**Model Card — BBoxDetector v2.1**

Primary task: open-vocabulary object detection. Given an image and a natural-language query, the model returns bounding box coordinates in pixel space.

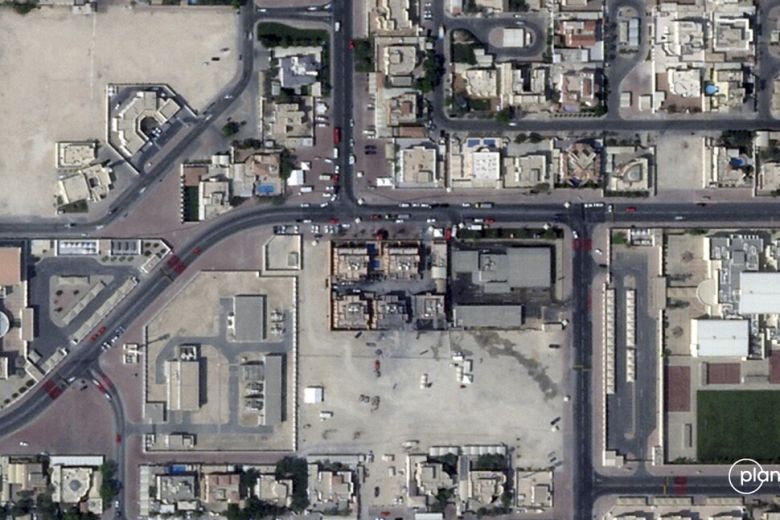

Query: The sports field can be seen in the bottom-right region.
[697,391,780,462]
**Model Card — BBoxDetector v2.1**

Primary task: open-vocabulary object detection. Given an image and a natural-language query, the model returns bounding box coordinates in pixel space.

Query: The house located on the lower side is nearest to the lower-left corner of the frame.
[1,455,46,502]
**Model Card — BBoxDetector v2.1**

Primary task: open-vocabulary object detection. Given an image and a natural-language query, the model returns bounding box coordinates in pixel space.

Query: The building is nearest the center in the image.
[382,247,419,278]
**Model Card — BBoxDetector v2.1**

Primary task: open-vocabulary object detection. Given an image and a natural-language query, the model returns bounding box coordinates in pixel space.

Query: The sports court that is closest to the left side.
[668,366,690,411]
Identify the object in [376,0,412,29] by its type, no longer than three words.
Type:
house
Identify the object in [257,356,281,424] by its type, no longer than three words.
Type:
building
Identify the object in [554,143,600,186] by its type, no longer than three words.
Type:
house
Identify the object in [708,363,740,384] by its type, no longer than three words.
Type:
sports court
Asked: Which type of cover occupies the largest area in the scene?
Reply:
paved ground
